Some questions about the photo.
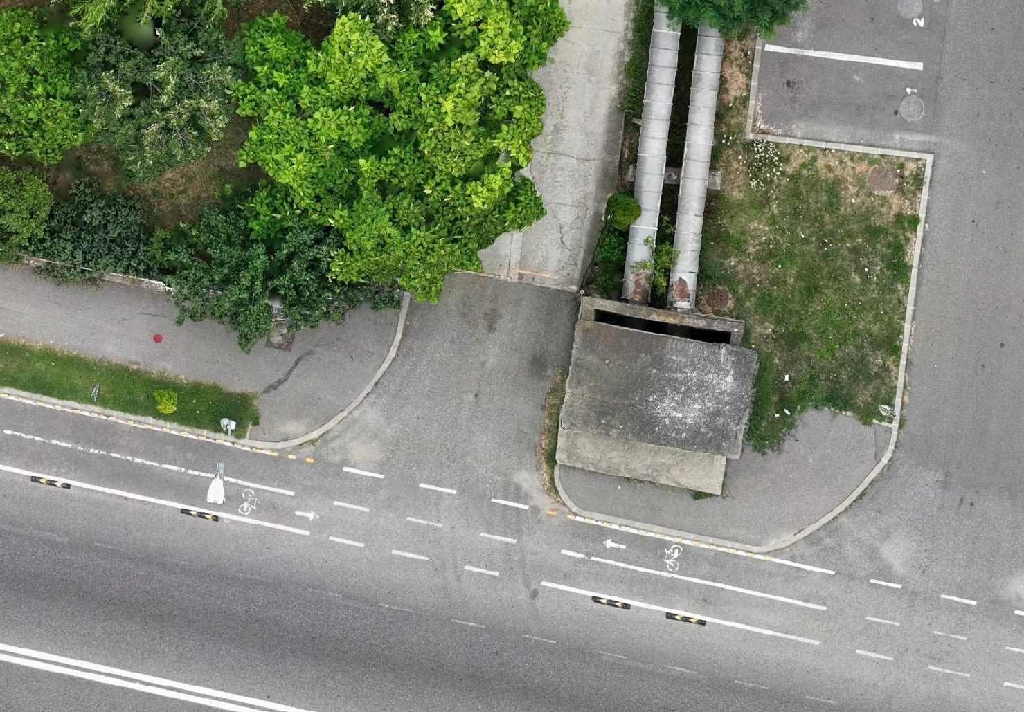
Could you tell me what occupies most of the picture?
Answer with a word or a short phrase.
paved ground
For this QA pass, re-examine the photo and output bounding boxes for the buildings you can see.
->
[556,296,756,495]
